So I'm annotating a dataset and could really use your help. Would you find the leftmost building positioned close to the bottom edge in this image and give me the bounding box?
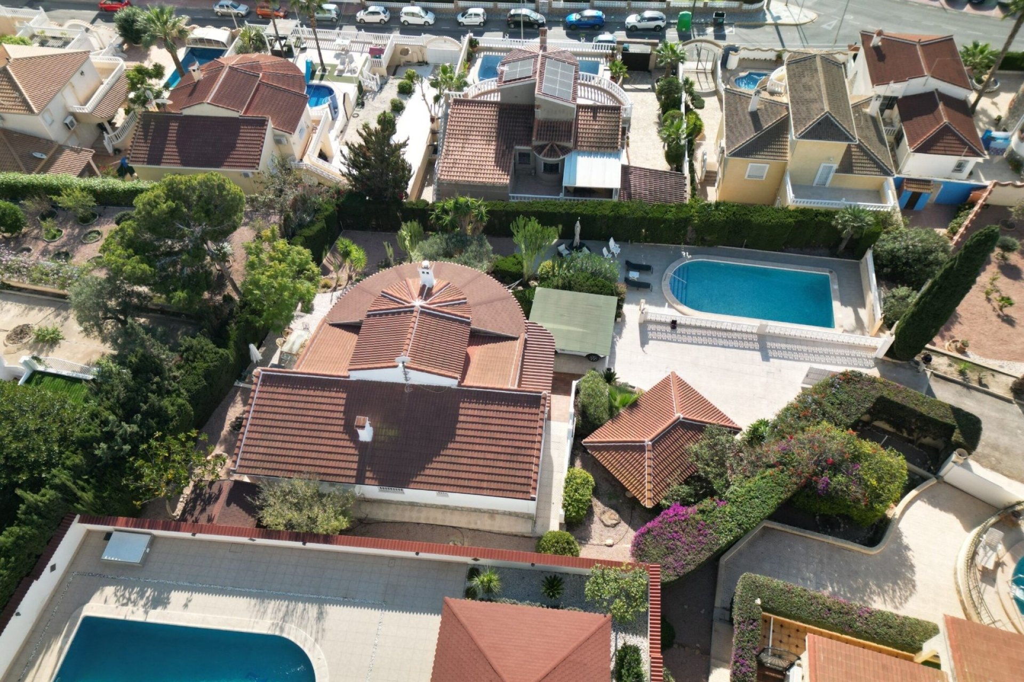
[430,597,613,682]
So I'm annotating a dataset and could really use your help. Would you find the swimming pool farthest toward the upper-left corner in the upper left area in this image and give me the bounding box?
[168,48,220,90]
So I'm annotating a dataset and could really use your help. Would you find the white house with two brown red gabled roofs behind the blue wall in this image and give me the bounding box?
[847,18,990,184]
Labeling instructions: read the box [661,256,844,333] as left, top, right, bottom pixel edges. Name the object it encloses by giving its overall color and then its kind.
blue swimming pool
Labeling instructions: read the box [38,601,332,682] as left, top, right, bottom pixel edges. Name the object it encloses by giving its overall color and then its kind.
blue swimming pool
